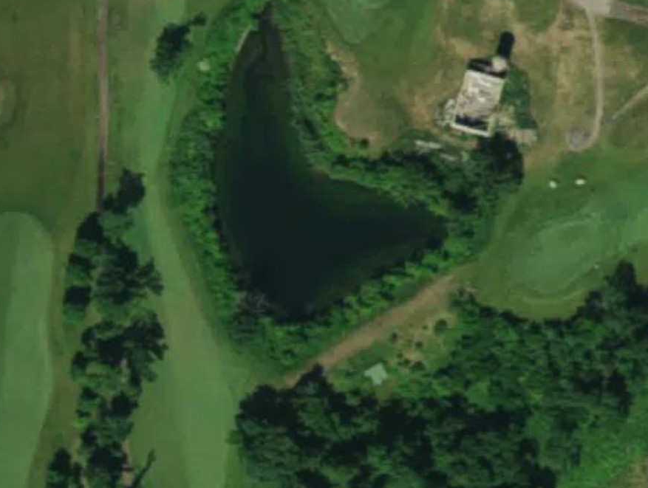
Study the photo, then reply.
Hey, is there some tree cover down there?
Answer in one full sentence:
Yes, there's tree cover in this view.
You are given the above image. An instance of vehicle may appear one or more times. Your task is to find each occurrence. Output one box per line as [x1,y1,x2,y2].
[575,180,586,186]
[550,180,557,190]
